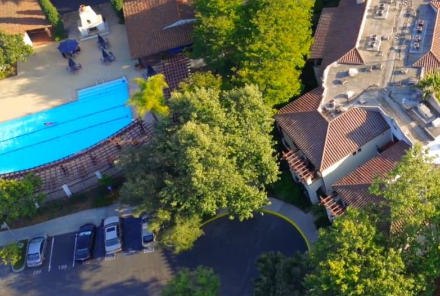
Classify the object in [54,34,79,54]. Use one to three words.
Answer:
umbrella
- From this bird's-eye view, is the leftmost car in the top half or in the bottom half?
bottom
